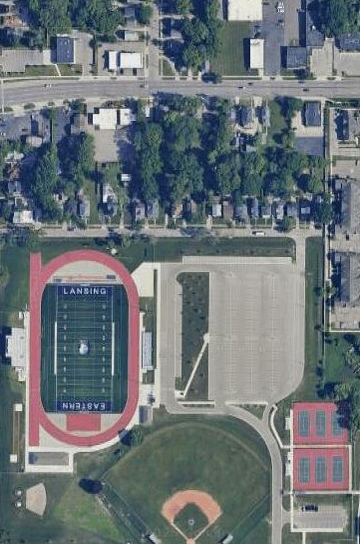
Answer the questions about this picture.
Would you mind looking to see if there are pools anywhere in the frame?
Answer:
No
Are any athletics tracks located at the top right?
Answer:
No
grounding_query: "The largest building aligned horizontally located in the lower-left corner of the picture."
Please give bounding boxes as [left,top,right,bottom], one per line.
[33,452,68,465]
